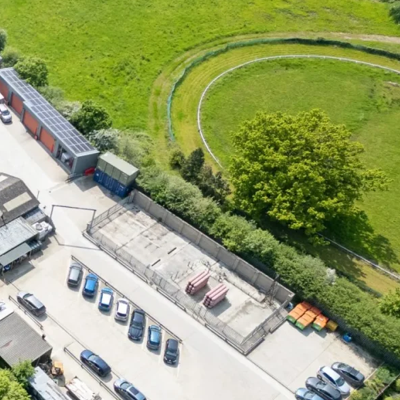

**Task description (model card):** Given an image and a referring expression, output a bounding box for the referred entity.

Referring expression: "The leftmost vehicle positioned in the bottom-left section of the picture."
[16,292,47,317]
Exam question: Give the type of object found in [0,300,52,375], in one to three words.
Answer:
shed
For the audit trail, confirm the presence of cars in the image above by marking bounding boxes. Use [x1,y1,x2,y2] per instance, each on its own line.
[328,361,368,392]
[67,264,83,286]
[16,292,47,317]
[114,298,131,323]
[162,337,180,365]
[305,377,344,400]
[294,387,325,400]
[112,378,147,400]
[127,309,146,342]
[98,289,115,312]
[83,274,99,297]
[0,103,11,122]
[79,349,112,378]
[317,367,350,395]
[145,326,163,351]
